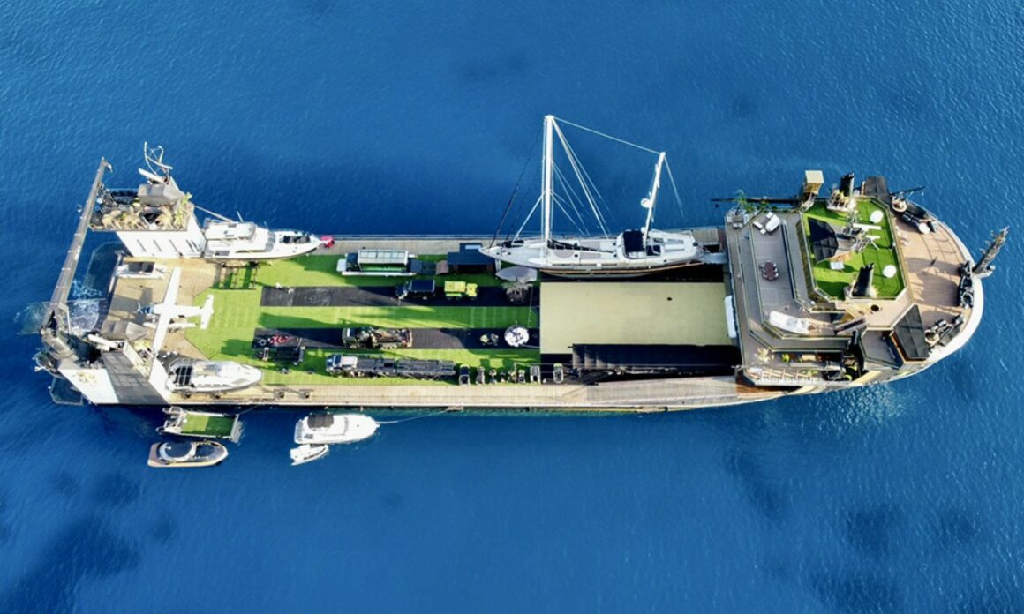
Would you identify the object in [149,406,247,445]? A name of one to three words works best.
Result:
boat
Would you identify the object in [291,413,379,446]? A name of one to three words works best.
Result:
boat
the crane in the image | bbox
[33,159,121,369]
